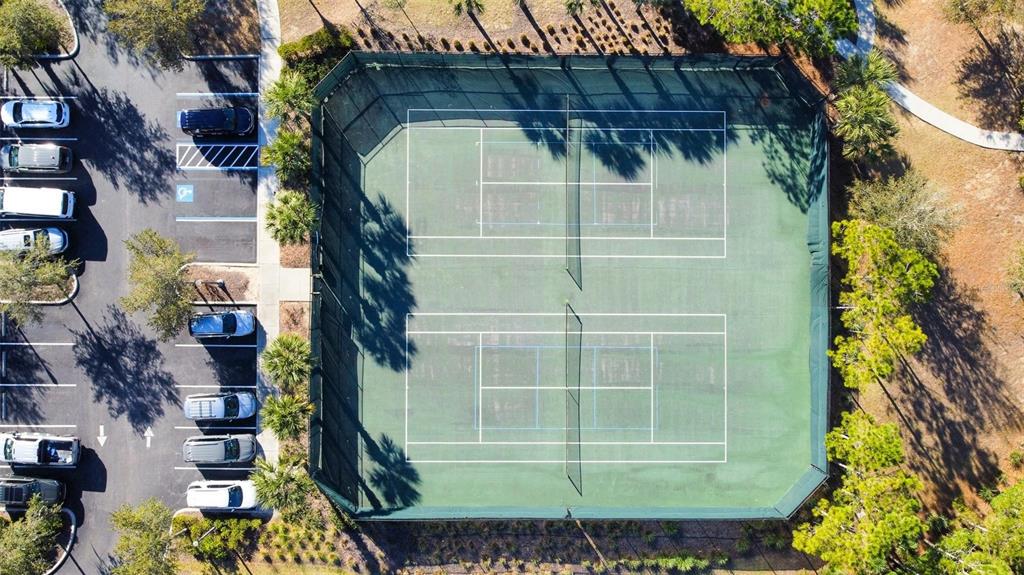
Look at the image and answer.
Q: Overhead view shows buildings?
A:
No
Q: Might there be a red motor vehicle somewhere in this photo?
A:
No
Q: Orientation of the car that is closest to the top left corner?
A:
from side to side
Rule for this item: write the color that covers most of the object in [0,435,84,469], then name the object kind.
white truck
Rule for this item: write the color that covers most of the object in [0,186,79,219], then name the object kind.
white van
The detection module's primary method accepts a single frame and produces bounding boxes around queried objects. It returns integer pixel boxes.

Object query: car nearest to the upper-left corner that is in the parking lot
[4,97,74,129]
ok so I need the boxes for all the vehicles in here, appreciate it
[4,97,74,129]
[187,389,259,421]
[4,141,77,173]
[0,435,84,469]
[190,307,258,338]
[189,478,262,511]
[0,186,79,219]
[180,104,257,138]
[186,434,258,466]
[0,225,70,257]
